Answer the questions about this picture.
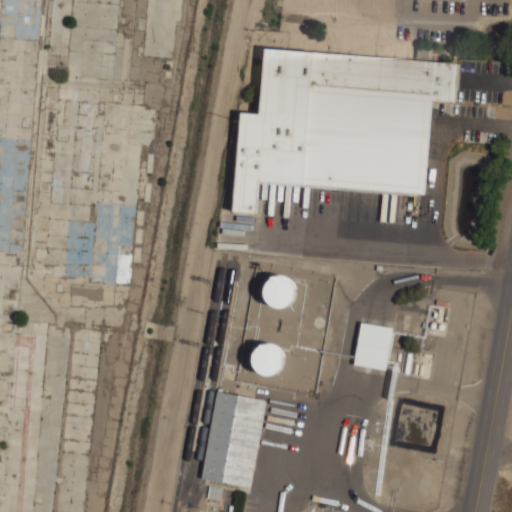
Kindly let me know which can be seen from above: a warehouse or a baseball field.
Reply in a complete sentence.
I can see a warehouse in this picture.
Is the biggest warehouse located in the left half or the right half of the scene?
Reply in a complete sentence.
The biggest warehouse appears in the right half of the scene.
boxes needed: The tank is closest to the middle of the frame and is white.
[262,275,298,310]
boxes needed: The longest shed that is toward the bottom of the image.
[202,390,266,490]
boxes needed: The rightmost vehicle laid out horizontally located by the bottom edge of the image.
[312,496,350,510]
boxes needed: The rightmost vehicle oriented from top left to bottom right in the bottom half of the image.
[348,488,384,512]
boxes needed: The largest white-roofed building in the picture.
[232,48,460,214]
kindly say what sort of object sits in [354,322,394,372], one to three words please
building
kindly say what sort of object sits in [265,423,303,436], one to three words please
vehicle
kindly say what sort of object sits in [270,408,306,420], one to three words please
vehicle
